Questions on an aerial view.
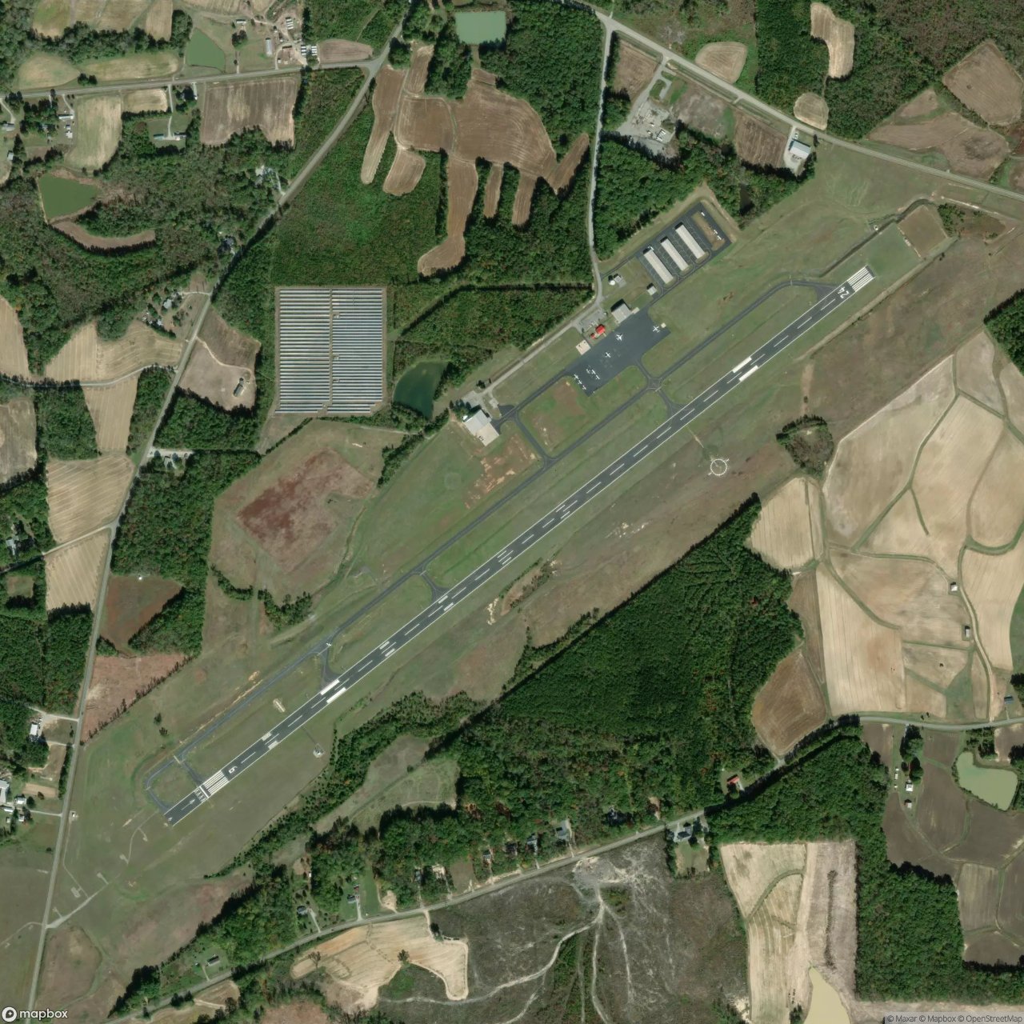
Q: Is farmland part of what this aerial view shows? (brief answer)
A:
Yes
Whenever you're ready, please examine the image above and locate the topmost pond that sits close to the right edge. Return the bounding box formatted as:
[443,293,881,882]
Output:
[957,752,1016,809]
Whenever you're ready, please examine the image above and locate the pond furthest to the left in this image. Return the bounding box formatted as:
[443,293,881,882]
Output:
[38,175,98,218]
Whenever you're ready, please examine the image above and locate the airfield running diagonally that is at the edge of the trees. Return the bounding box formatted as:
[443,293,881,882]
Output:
[147,203,877,826]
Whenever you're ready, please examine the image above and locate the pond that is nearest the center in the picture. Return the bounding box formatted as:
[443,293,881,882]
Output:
[392,361,447,418]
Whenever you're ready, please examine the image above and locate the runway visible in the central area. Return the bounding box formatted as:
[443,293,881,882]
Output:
[164,264,877,826]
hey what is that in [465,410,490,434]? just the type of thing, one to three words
hangar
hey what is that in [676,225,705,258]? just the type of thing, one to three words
hangar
